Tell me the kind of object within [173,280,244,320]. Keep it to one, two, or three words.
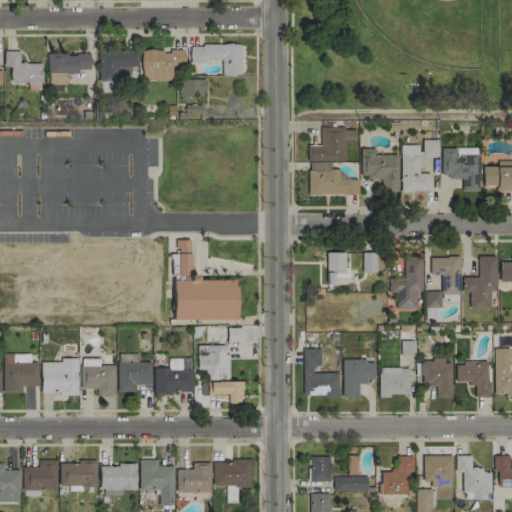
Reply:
building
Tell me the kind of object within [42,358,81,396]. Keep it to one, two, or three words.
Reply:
house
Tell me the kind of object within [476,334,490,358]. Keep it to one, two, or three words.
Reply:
swimming pool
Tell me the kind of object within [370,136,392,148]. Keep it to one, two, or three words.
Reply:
swimming pool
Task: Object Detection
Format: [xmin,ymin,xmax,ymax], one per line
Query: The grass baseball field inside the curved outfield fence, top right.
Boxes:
[357,0,482,70]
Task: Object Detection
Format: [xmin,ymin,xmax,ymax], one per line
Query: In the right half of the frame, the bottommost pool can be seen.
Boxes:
[361,451,374,474]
